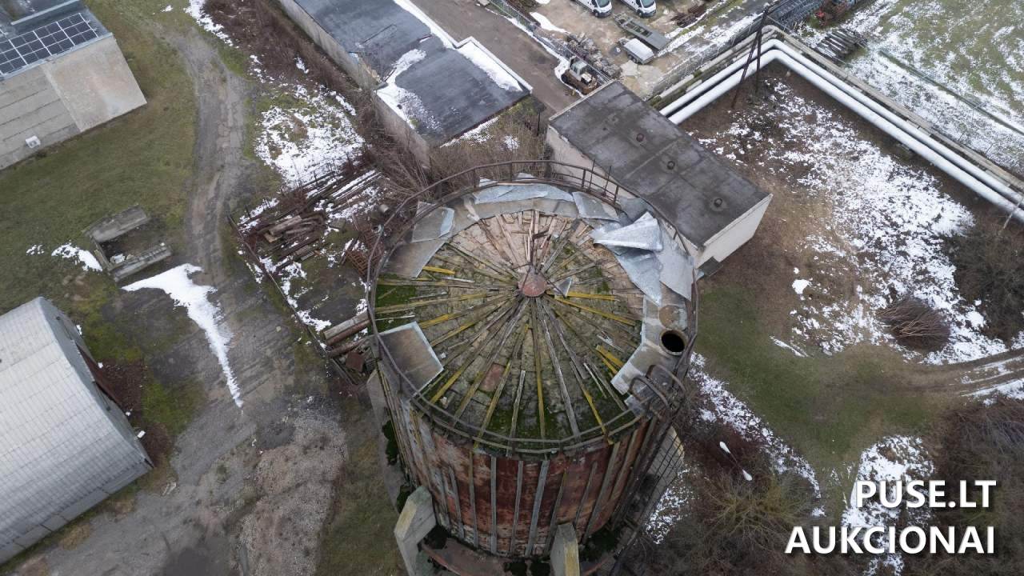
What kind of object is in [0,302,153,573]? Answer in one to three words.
hangar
